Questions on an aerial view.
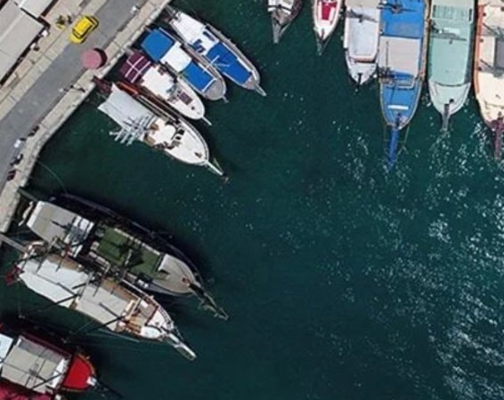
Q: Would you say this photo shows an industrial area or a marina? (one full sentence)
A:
This looks like a marina.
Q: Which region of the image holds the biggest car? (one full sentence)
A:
Look in the top left portion of the view to spot the biggest car.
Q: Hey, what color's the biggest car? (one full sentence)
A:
The biggest car looks yellow in the image.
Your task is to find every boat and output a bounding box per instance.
[0,316,123,400]
[339,0,384,94]
[155,1,267,95]
[3,169,229,319]
[367,0,431,167]
[474,0,504,161]
[135,27,227,99]
[0,228,196,359]
[260,0,301,42]
[428,0,477,130]
[111,52,212,126]
[0,374,64,400]
[76,75,225,176]
[310,0,344,54]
